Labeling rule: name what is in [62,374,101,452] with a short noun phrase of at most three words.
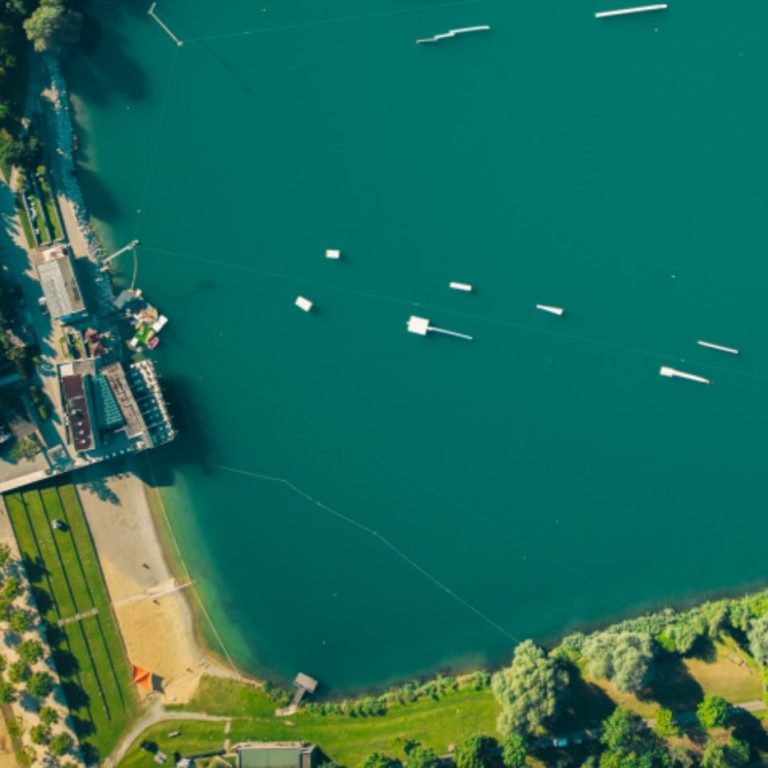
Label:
building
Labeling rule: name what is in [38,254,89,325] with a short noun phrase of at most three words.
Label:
building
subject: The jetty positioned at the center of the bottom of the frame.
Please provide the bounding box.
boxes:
[290,672,317,706]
